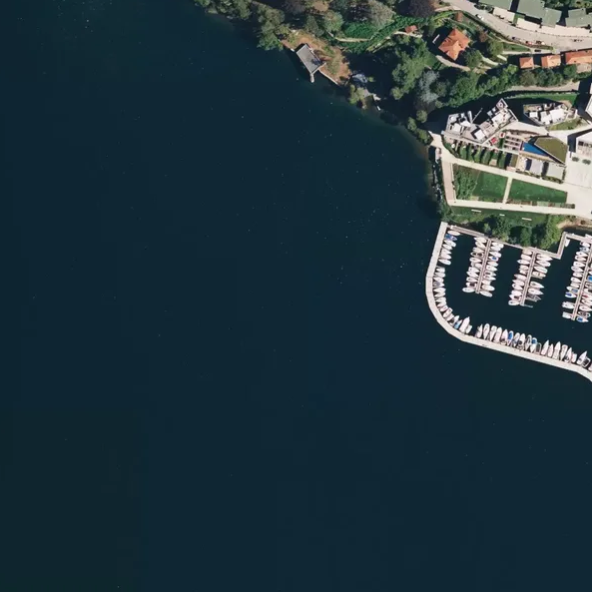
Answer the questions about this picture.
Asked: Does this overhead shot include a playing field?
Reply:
No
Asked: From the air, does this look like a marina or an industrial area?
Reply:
marina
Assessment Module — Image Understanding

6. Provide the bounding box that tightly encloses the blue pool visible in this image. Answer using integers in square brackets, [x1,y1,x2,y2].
[524,143,546,156]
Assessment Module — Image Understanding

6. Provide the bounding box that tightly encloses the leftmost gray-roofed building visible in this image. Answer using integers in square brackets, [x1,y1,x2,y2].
[294,44,322,74]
